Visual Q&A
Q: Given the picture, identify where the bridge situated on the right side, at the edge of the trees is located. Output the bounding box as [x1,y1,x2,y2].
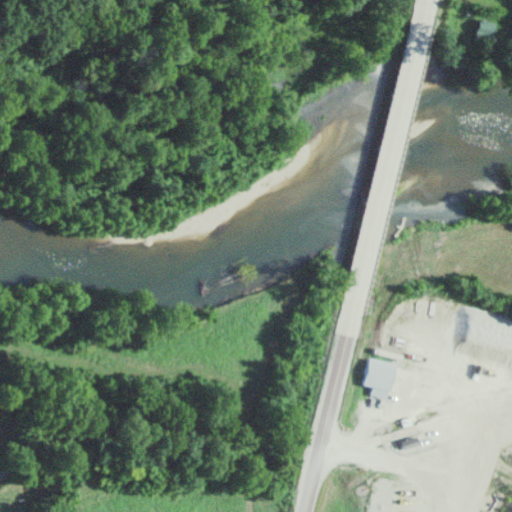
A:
[336,28,434,339]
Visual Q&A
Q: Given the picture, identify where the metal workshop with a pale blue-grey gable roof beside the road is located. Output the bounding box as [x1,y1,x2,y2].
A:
[362,359,396,400]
